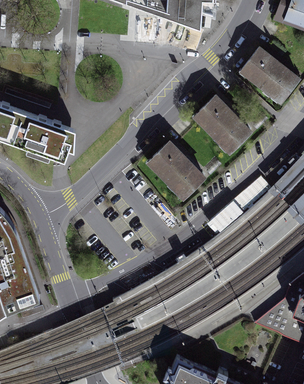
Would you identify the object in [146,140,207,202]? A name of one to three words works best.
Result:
house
